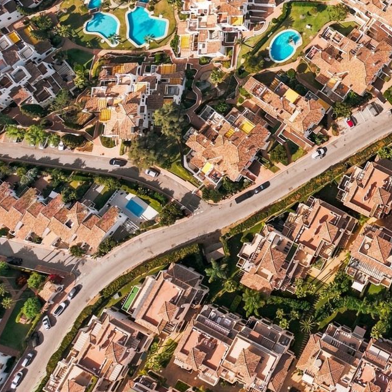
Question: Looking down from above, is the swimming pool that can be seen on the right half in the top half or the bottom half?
top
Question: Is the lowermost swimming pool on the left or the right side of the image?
left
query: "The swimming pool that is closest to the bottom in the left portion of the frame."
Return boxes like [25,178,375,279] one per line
[118,283,139,314]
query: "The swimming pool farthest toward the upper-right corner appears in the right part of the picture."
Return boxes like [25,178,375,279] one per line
[267,28,303,64]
